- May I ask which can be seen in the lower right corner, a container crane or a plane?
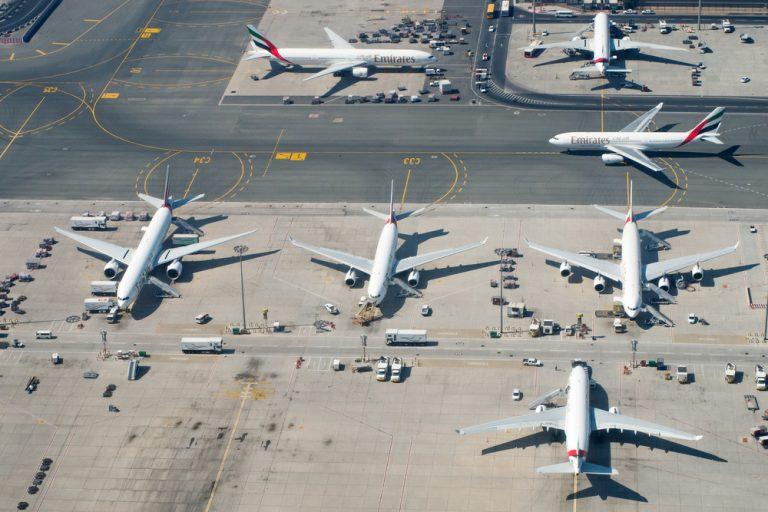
plane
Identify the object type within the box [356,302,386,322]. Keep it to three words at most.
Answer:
work vehicle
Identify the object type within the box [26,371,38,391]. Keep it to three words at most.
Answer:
vehicle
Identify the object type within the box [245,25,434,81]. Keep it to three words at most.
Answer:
airplane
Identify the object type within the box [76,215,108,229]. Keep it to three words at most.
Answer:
vehicle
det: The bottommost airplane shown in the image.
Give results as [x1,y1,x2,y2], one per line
[456,366,704,478]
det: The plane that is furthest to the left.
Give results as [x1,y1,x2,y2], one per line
[52,164,260,309]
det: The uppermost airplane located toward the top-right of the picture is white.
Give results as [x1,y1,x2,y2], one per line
[520,15,690,73]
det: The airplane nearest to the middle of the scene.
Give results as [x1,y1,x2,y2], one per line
[289,181,488,305]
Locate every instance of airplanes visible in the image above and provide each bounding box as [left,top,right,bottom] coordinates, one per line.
[245,25,434,81]
[520,15,690,73]
[456,366,704,478]
[289,181,488,305]
[550,98,728,168]
[52,164,260,309]
[526,180,740,320]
